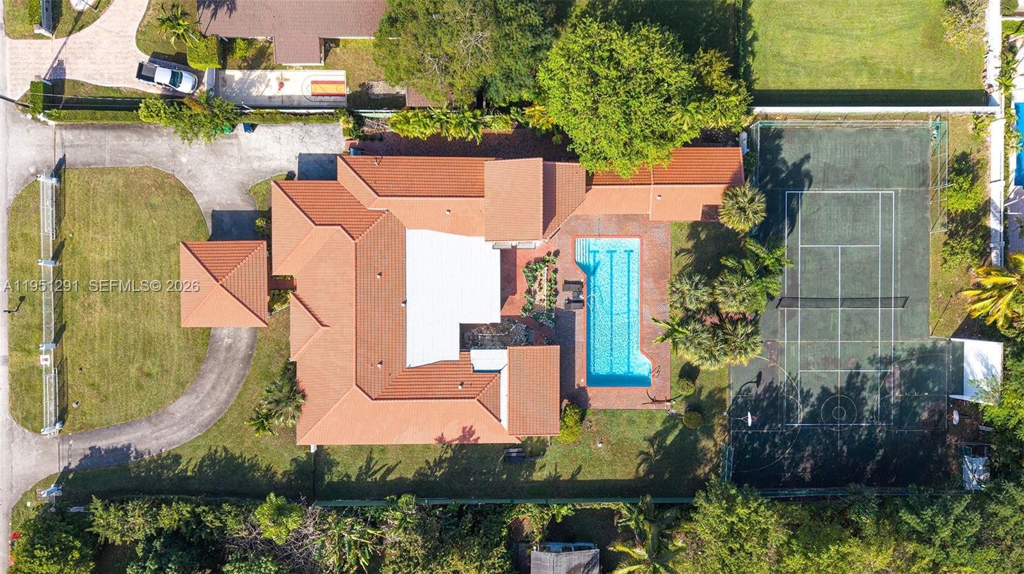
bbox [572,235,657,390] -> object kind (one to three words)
swimming pool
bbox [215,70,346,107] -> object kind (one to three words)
basketball court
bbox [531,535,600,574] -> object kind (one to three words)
shed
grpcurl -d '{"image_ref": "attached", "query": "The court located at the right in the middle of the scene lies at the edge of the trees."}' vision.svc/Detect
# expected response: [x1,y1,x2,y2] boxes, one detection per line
[728,125,964,491]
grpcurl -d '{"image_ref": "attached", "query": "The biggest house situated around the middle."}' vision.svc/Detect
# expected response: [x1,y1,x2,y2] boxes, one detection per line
[271,147,747,445]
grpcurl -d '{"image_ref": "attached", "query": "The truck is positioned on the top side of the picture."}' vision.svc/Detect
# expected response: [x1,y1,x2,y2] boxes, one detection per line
[137,57,201,93]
